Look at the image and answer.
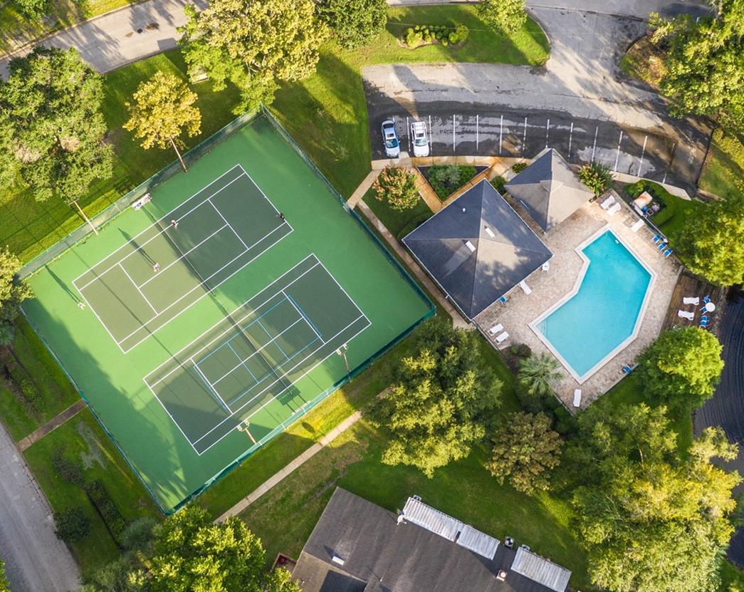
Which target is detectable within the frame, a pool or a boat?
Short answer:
pool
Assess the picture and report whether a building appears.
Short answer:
Yes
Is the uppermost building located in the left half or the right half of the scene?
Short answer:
right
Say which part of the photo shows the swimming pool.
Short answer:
right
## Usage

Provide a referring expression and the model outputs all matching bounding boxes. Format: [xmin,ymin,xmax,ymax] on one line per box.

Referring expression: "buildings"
[503,149,596,234]
[294,486,572,592]
[403,179,555,320]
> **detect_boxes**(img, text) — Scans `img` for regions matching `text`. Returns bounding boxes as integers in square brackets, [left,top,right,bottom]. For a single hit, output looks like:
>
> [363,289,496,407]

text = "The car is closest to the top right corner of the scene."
[411,118,430,155]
